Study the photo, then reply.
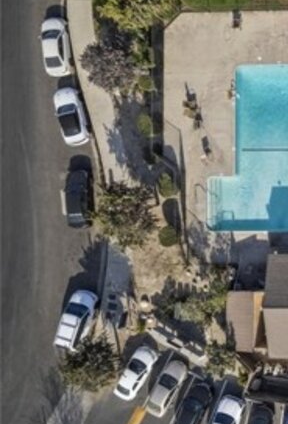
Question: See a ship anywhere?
No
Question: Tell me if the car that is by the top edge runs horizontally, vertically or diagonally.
vertically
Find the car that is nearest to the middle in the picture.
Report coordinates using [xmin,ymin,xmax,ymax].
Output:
[62,166,94,224]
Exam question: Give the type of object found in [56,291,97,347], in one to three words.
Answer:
car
